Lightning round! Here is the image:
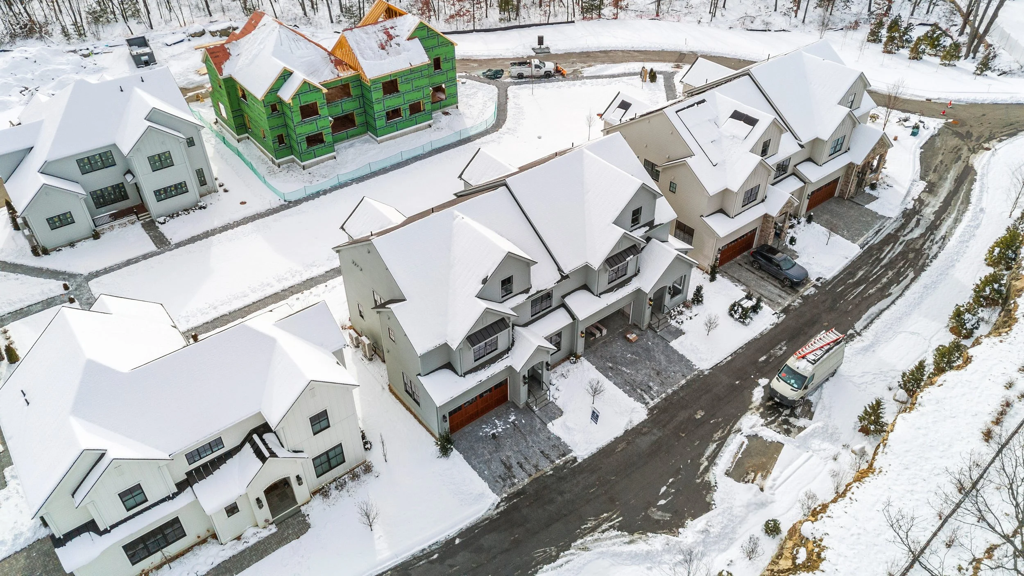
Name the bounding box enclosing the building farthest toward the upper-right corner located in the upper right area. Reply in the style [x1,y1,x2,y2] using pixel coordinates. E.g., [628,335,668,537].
[599,39,893,268]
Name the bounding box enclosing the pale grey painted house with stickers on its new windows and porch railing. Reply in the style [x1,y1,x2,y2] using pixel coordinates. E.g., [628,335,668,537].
[0,66,215,245]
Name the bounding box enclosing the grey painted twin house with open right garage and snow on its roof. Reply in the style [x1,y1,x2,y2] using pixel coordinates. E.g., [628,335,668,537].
[332,131,699,435]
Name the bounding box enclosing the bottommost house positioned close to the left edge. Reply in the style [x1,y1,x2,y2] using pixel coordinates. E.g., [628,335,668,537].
[0,293,365,576]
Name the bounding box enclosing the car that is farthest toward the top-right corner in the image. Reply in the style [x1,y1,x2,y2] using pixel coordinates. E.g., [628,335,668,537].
[750,245,810,287]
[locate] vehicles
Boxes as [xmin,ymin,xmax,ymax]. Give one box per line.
[512,59,565,79]
[750,245,810,287]
[769,328,849,406]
